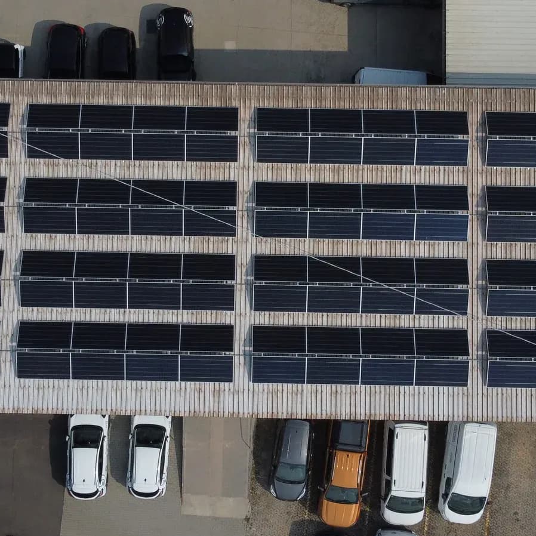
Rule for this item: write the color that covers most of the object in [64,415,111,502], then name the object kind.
white car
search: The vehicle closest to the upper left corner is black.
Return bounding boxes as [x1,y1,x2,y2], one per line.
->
[0,44,31,78]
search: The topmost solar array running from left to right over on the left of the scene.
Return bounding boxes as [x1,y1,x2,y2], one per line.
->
[24,104,239,165]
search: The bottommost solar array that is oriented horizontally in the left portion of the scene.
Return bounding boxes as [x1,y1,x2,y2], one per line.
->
[15,322,234,387]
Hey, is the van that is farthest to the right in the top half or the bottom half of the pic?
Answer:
bottom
